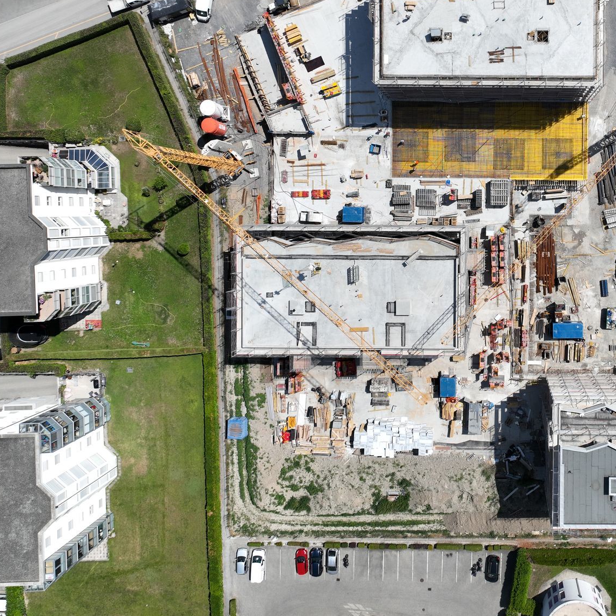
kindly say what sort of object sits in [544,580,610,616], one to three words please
house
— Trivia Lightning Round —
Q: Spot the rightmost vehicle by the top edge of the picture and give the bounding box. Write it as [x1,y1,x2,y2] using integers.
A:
[271,0,303,13]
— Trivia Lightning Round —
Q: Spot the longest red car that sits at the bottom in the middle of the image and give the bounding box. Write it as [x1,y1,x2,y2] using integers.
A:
[294,548,308,574]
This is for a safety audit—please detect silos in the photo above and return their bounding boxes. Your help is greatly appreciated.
[202,117,242,138]
[200,99,241,122]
